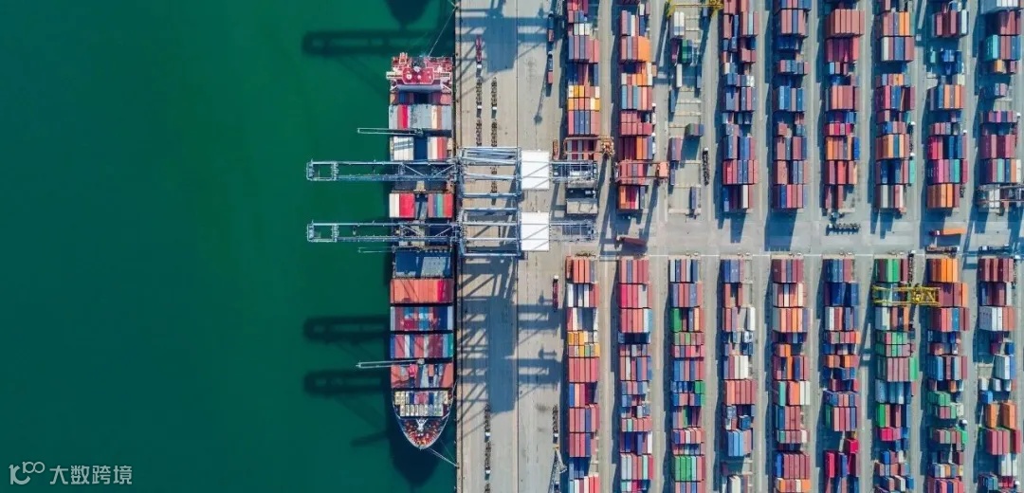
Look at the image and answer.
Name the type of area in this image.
port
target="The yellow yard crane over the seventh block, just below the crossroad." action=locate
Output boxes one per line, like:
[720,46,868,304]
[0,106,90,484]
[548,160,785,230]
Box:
[870,281,943,308]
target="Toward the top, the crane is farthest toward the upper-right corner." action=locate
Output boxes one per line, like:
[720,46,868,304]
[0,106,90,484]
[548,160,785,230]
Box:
[972,183,1024,209]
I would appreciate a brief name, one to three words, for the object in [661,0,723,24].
crane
